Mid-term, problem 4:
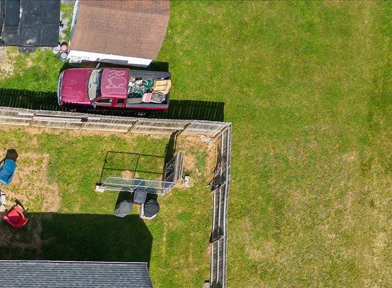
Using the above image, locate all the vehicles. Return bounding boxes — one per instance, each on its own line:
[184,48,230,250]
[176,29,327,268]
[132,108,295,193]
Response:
[56,59,170,114]
[0,0,60,56]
